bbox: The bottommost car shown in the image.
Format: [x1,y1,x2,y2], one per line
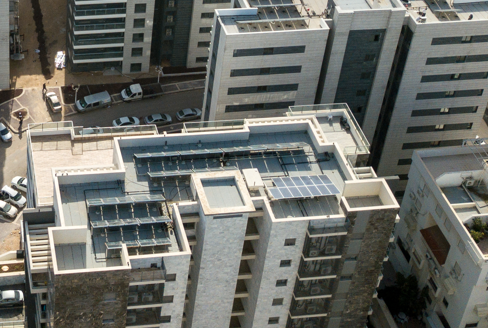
[0,289,24,307]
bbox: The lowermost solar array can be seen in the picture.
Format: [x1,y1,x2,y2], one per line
[102,233,172,248]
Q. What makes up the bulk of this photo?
buildings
